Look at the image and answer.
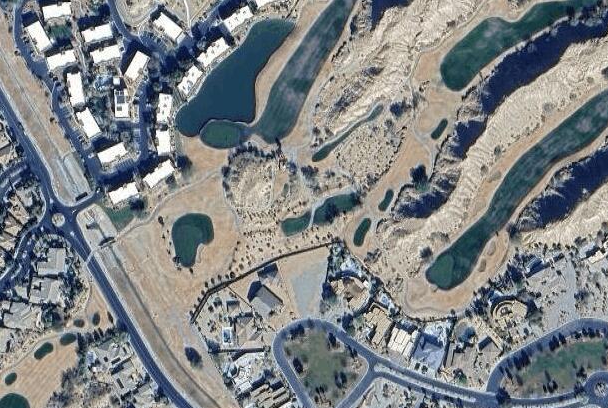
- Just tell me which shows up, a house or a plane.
house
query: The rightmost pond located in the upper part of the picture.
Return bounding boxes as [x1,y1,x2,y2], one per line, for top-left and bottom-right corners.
[176,20,290,137]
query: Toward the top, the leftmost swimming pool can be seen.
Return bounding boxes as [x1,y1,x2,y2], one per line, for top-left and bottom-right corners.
[97,77,113,91]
